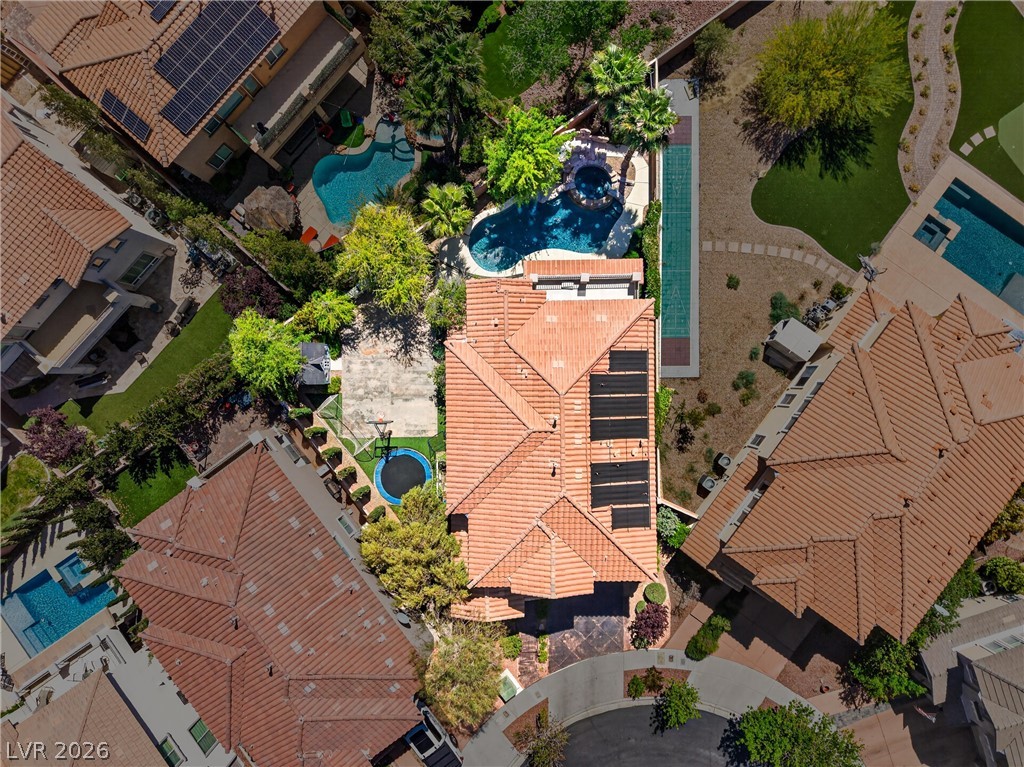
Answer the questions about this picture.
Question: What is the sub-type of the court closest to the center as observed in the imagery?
basketball court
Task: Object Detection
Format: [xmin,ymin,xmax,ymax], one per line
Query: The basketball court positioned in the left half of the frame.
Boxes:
[342,348,438,438]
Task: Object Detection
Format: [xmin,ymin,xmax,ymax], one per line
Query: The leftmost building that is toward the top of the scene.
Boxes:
[0,93,176,411]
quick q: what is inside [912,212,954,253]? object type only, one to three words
swimming pool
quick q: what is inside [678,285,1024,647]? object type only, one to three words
house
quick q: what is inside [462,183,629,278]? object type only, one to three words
swimming pool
